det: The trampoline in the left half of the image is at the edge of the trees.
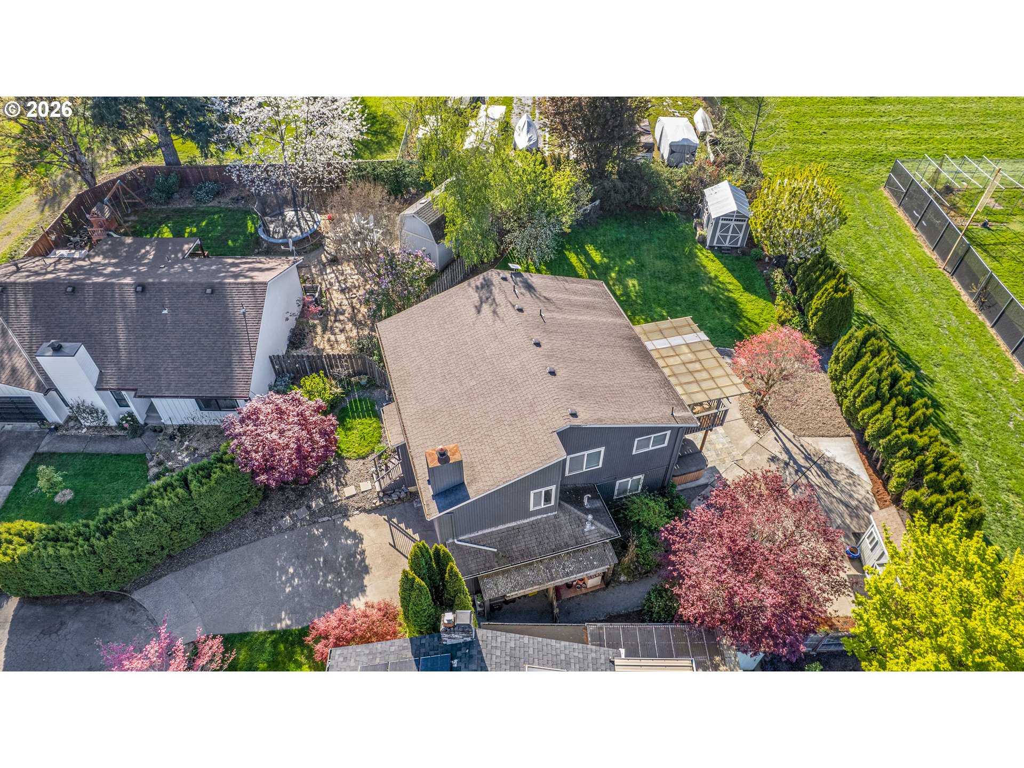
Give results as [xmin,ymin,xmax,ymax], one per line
[254,186,323,252]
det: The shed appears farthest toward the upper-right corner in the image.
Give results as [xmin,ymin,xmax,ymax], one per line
[700,181,757,251]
